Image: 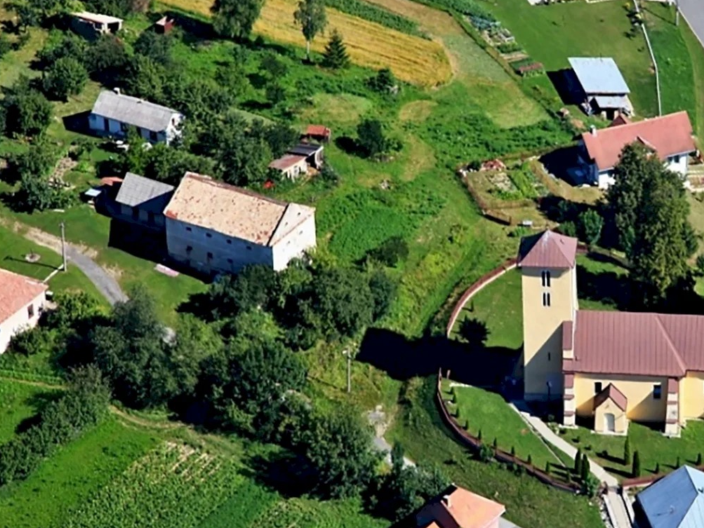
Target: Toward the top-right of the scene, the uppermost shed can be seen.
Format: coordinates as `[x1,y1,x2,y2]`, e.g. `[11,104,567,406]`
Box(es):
[573,52,629,120]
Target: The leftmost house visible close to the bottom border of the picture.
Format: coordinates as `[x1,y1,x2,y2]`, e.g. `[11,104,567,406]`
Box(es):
[408,487,505,528]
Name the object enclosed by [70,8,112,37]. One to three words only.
shed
